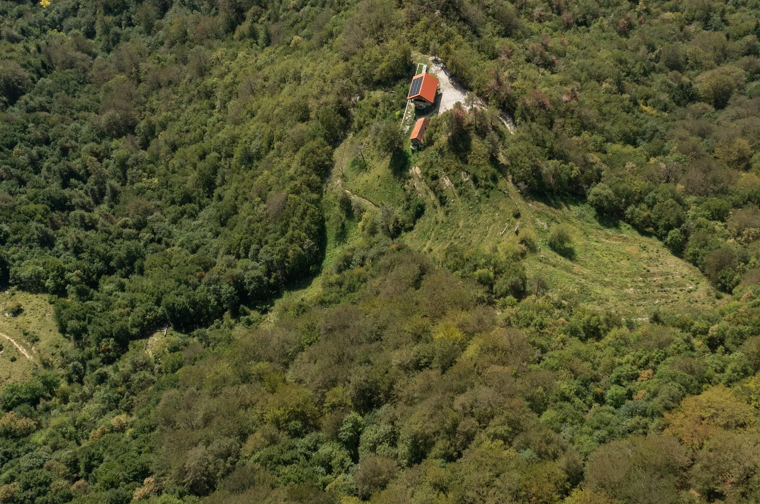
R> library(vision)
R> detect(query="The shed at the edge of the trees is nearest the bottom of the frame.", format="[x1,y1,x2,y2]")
[410,117,429,147]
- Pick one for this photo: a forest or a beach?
forest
